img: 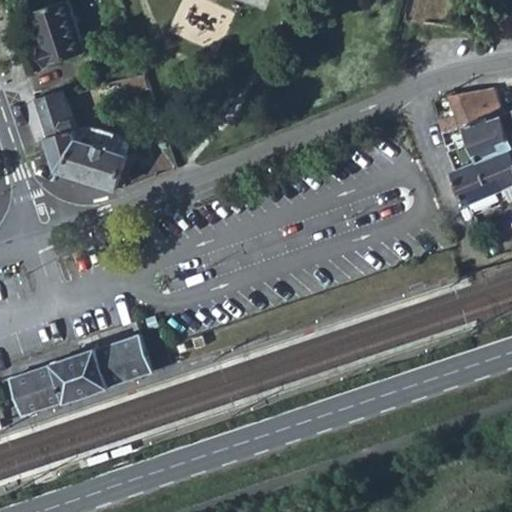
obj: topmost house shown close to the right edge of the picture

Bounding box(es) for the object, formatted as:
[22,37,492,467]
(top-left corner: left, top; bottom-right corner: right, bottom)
[438,87,502,132]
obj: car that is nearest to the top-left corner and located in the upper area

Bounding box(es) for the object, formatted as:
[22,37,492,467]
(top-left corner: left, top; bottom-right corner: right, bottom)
[37,70,58,84]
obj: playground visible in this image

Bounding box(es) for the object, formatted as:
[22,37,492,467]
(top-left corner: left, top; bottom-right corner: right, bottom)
[170,0,235,47]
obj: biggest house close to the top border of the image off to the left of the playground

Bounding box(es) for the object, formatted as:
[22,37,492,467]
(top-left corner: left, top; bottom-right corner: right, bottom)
[33,1,82,70]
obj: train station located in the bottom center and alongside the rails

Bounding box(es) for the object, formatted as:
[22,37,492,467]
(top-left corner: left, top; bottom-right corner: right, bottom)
[0,278,477,493]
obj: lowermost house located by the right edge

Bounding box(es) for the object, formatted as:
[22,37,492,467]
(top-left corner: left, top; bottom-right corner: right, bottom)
[450,150,512,213]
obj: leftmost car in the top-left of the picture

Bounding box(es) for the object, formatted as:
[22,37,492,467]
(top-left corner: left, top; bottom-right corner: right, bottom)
[10,102,24,125]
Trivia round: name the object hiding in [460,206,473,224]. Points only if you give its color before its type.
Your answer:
white vehicle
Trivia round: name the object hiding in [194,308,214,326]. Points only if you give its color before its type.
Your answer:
white car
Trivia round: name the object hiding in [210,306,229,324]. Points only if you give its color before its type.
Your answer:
white car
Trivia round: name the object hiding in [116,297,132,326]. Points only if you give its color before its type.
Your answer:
white vehicle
